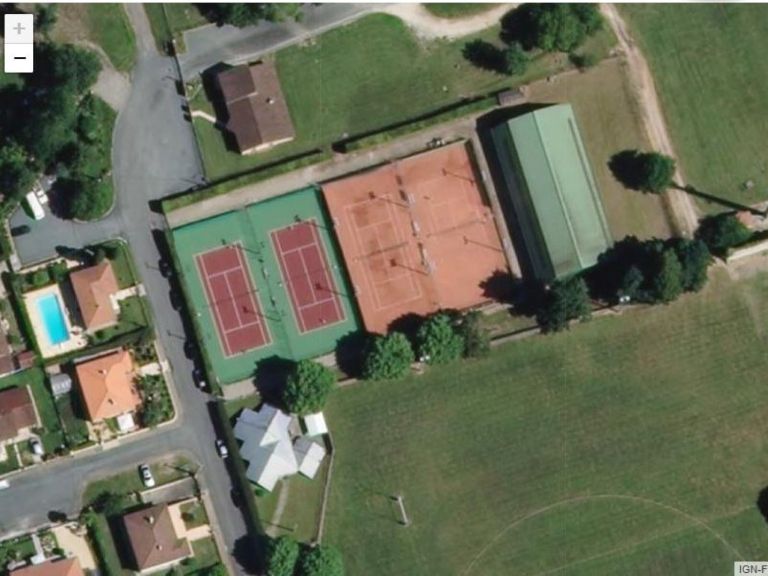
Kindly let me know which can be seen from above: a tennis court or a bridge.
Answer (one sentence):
The image shows a tennis court.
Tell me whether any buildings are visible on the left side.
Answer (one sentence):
Yes, a building can be seen on the left side.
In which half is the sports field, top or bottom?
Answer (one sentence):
It is in the bottom half that the sports field appears.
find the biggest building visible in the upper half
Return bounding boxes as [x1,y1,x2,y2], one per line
[491,103,617,283]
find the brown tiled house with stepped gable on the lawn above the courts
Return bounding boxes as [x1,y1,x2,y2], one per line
[218,60,294,150]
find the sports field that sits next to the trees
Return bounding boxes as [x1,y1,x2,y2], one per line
[317,254,768,576]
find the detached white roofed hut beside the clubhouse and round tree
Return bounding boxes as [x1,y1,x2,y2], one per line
[304,412,328,437]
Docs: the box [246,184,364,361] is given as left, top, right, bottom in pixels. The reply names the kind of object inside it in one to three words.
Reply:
tennis court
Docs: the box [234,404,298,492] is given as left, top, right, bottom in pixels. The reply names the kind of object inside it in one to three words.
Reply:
building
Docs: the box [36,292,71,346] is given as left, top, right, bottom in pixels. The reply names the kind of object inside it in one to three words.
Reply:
swimming pool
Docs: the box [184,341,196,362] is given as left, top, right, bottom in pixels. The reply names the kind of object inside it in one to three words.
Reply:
vehicle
